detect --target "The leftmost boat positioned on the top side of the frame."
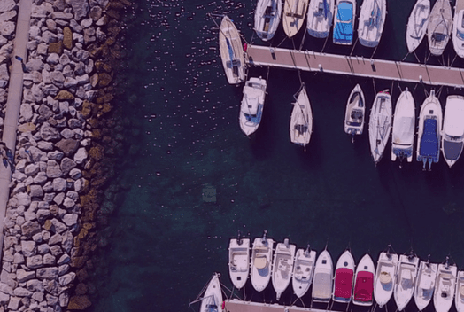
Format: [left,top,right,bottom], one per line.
[214,14,249,85]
